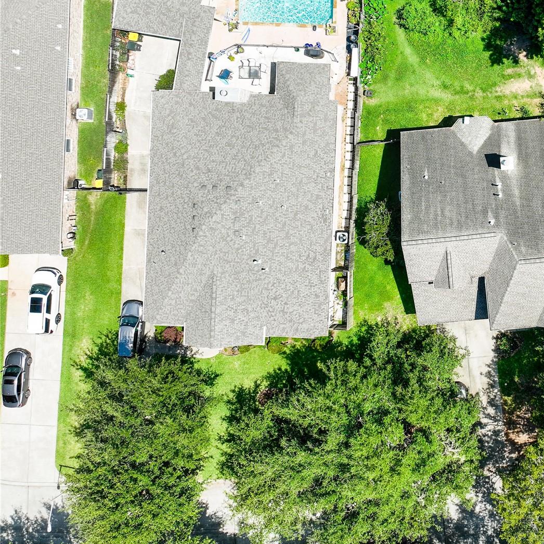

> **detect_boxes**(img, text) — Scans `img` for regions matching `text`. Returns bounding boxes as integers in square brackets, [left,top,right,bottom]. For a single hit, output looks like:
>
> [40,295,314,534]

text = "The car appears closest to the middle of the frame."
[114,295,149,360]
